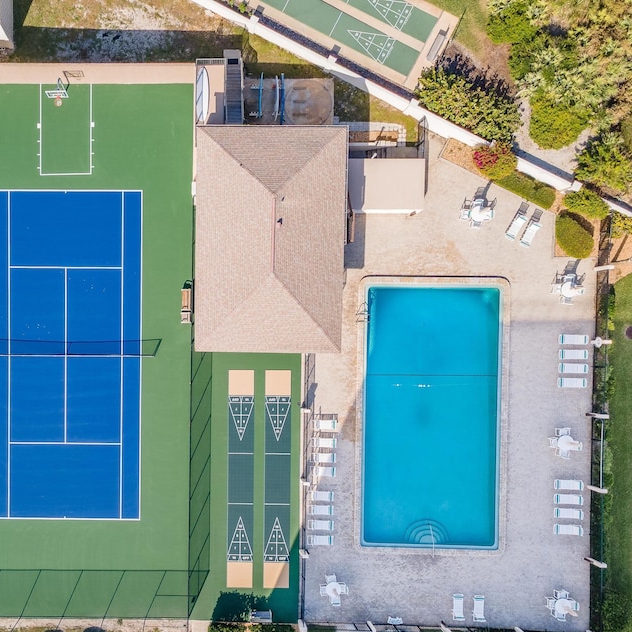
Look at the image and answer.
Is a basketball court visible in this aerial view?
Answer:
Yes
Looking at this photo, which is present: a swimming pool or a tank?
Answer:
swimming pool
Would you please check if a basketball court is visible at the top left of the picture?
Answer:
Yes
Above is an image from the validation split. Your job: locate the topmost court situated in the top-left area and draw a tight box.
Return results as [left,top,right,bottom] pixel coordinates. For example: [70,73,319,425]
[37,83,95,175]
